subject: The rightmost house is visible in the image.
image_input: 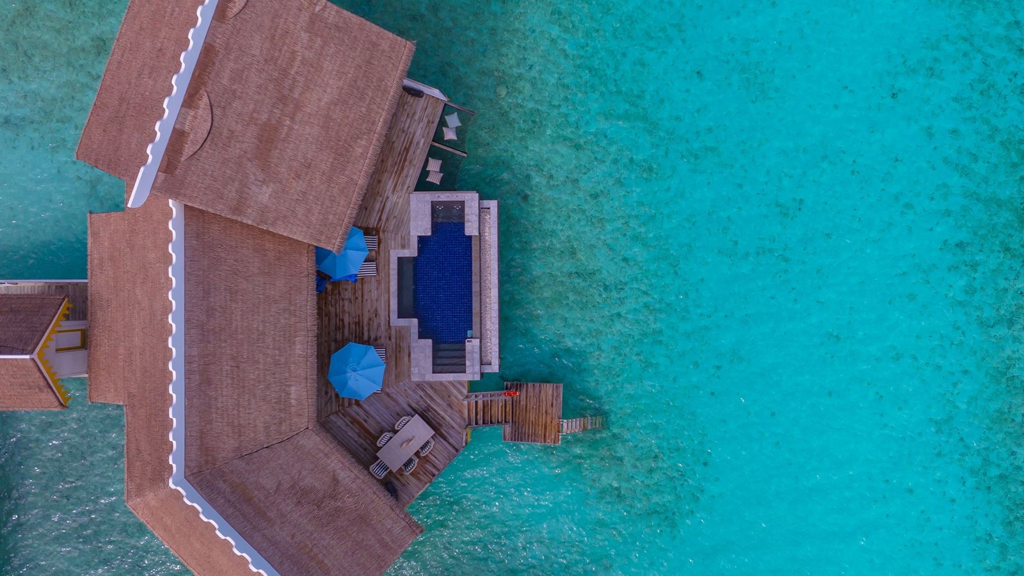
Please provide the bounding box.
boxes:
[76,0,424,576]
